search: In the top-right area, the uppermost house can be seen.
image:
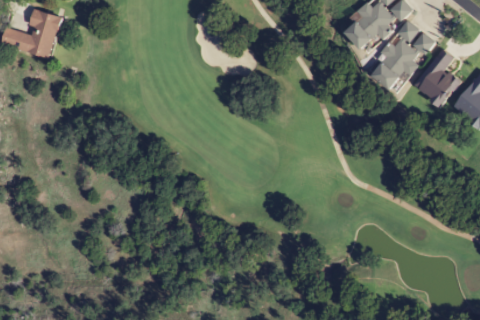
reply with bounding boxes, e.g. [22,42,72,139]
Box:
[343,0,412,50]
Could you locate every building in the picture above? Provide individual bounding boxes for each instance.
[370,21,436,92]
[454,77,480,126]
[2,8,62,56]
[416,50,462,100]
[343,0,412,50]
